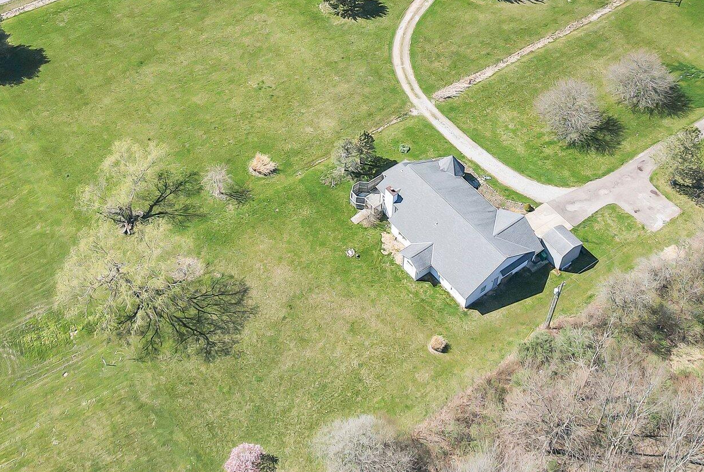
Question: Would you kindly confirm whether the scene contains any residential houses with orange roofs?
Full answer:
No, there appears to be no residential house with an orange roof in this shot.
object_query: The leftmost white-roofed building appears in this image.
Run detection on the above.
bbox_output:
[374,155,546,306]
